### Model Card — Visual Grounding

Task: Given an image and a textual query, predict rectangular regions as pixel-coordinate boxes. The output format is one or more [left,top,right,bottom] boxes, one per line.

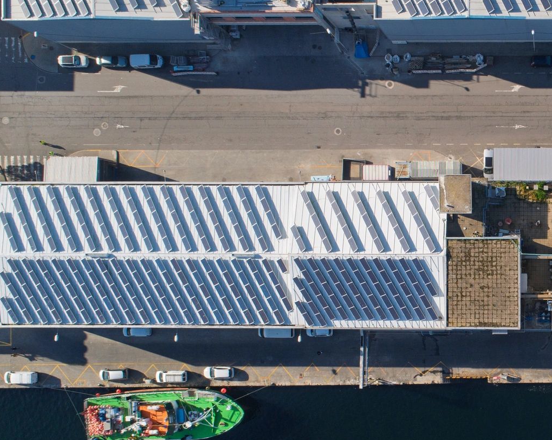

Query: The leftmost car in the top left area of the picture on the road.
[61,54,93,70]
